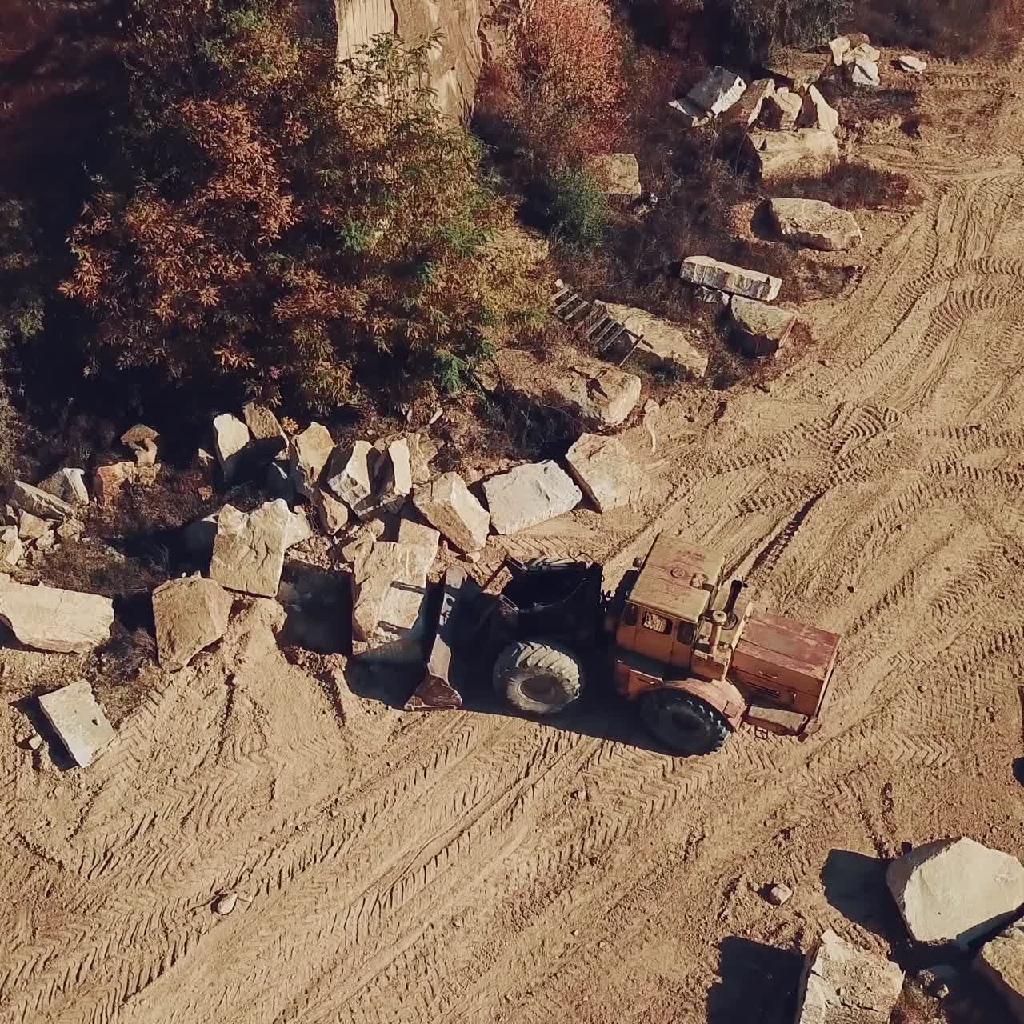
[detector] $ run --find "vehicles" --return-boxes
[399,535,841,759]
